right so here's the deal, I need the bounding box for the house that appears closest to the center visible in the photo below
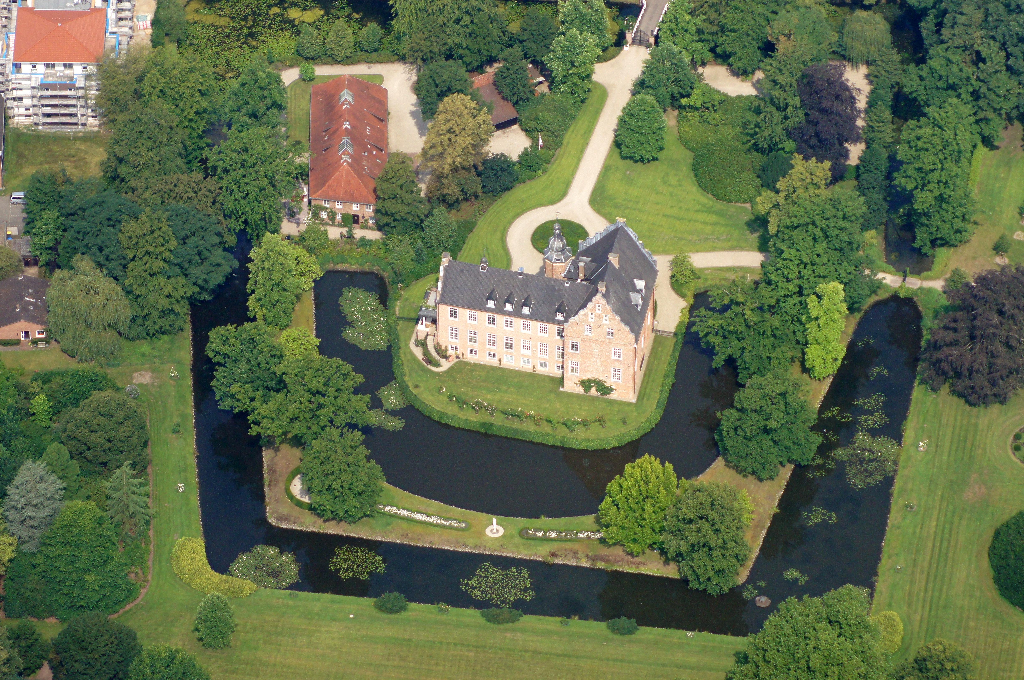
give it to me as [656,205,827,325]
[417,211,659,398]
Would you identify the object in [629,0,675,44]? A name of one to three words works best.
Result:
bridge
